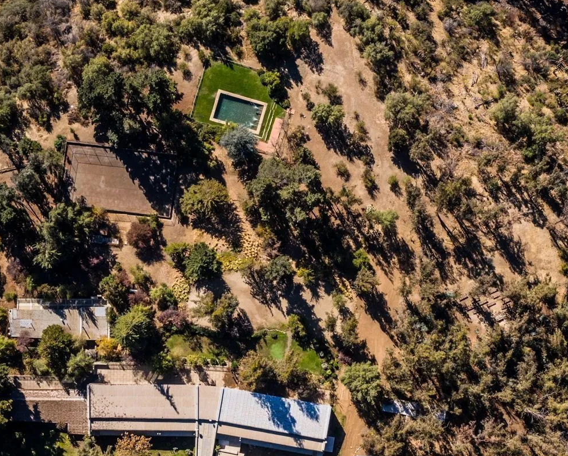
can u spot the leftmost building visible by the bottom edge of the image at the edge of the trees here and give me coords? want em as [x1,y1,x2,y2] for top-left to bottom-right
[12,381,334,456]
